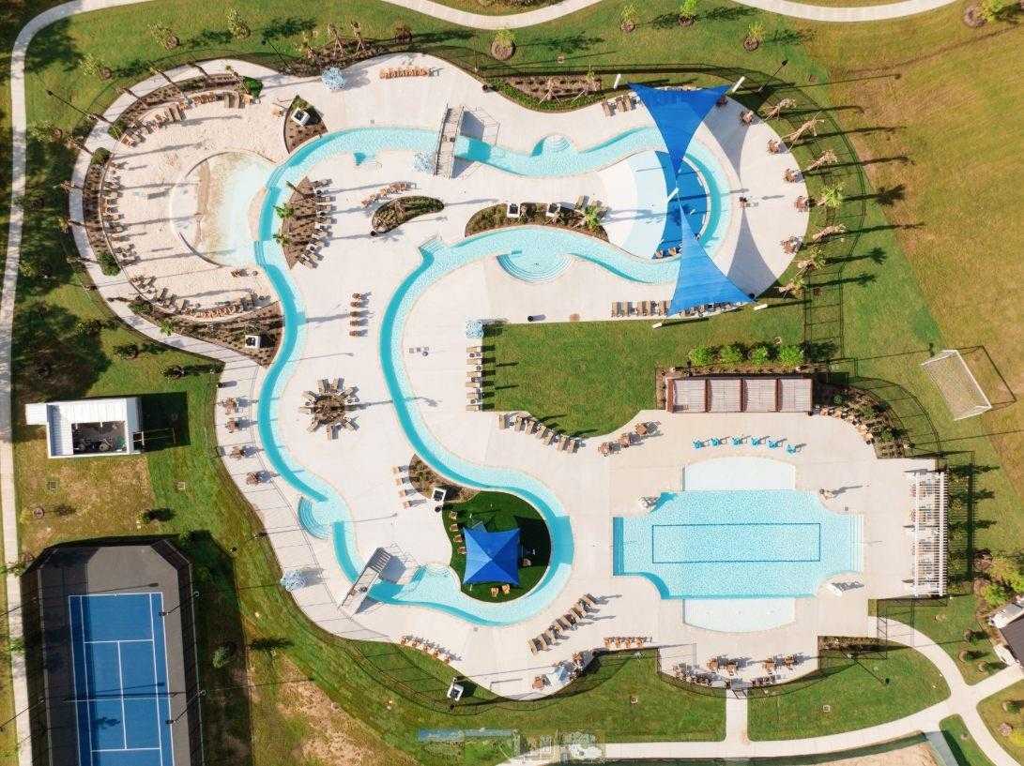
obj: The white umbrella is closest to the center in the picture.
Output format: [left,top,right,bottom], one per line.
[466,320,482,336]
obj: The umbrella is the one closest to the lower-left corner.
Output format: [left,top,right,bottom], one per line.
[282,569,305,593]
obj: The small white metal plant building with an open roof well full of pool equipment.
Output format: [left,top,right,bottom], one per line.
[28,399,155,458]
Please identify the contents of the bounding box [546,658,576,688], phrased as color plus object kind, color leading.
white umbrella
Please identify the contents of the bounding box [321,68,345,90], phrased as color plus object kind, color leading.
white umbrella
